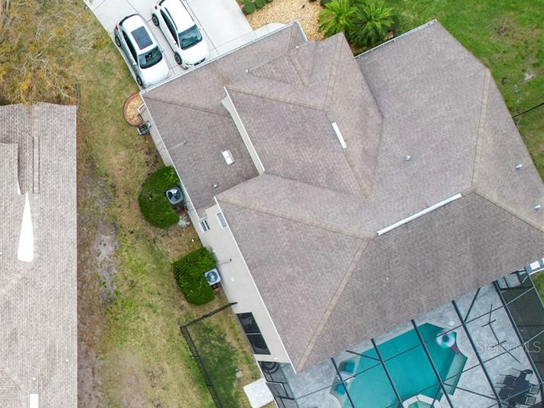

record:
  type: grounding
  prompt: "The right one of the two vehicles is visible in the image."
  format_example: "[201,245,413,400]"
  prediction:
[152,0,213,69]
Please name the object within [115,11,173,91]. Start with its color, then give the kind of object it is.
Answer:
white car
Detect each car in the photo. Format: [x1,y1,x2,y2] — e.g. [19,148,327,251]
[115,11,173,91]
[152,0,213,69]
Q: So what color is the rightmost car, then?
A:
white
